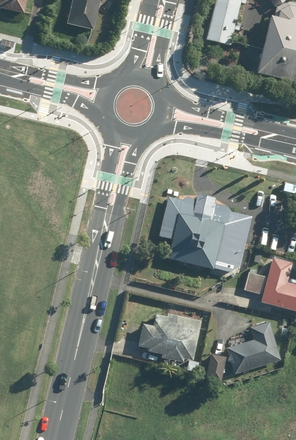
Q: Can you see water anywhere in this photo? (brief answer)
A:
No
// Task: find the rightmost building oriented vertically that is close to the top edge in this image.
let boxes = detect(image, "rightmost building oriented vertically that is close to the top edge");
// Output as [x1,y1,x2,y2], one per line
[258,2,296,83]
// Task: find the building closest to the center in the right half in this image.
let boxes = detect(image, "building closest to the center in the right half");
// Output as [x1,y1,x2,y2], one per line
[158,196,252,273]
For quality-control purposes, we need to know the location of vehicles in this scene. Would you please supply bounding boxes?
[270,234,279,251]
[288,238,296,252]
[99,0,110,16]
[214,340,222,356]
[256,192,264,208]
[89,296,98,312]
[58,375,66,391]
[260,228,270,246]
[156,64,163,78]
[98,302,106,316]
[142,352,158,362]
[93,318,102,333]
[104,231,113,248]
[40,417,48,432]
[268,195,277,211]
